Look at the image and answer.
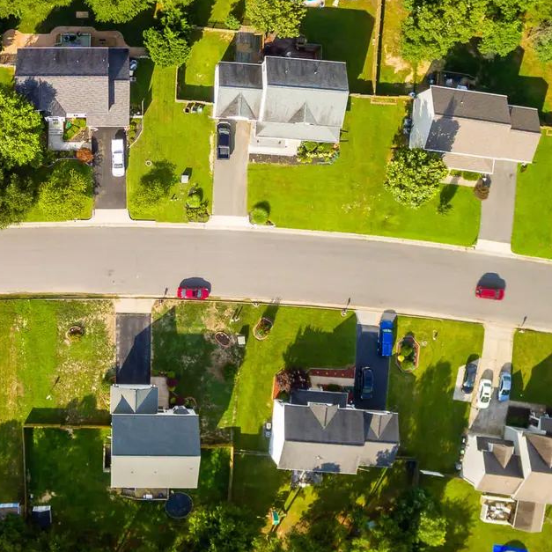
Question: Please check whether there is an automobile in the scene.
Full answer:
Yes, the photo shows an automobile.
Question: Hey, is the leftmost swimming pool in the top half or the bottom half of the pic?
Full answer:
It is in the bottom half that the leftmost swimming pool appears.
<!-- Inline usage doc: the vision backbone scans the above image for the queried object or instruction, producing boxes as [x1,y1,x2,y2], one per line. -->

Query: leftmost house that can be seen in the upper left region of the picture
[14,48,130,135]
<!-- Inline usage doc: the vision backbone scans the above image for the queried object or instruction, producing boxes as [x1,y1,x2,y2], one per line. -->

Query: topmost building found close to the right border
[410,86,541,175]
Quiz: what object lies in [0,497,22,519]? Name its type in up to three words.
shed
